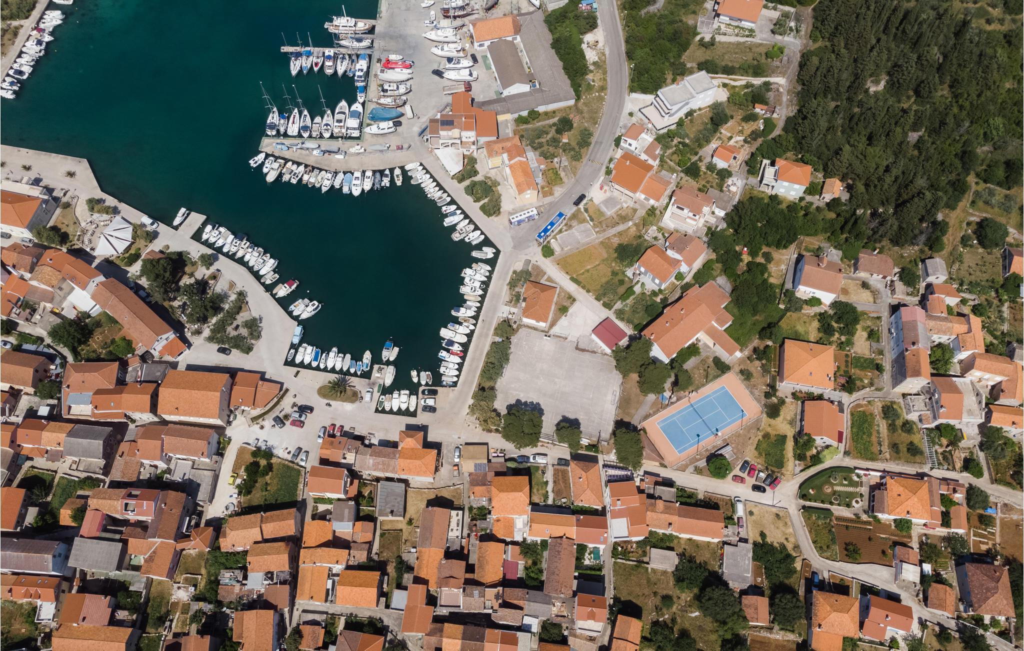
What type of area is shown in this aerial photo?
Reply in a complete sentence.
It's a residential area.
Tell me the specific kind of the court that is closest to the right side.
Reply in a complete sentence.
Specifically, the court that is closest to the right side is a tennis court.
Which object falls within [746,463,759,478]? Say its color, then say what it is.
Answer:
red vehicle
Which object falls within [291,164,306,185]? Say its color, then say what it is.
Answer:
white boat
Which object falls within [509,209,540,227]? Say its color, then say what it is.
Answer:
white vehicle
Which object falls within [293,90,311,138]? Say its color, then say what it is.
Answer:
white boat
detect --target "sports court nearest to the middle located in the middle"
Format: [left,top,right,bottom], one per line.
[494,328,623,442]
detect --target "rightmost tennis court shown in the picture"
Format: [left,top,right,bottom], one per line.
[639,367,763,469]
